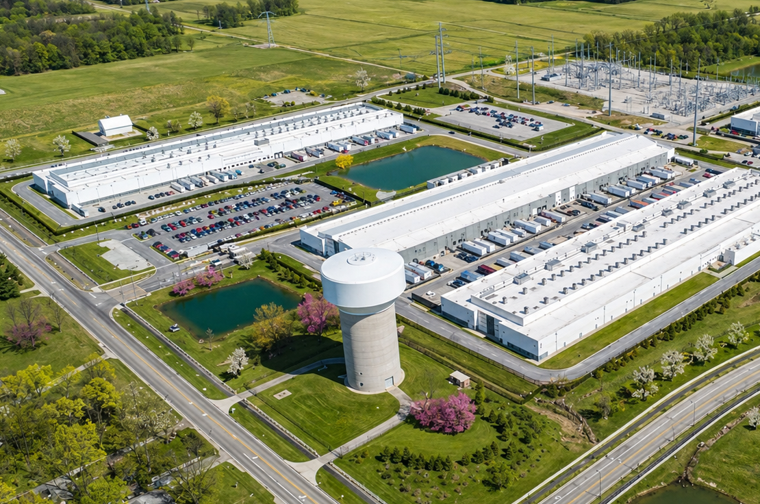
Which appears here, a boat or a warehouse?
warehouse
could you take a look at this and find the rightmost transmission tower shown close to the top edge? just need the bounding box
[257,13,276,46]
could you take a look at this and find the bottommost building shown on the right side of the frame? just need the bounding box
[447,369,472,388]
